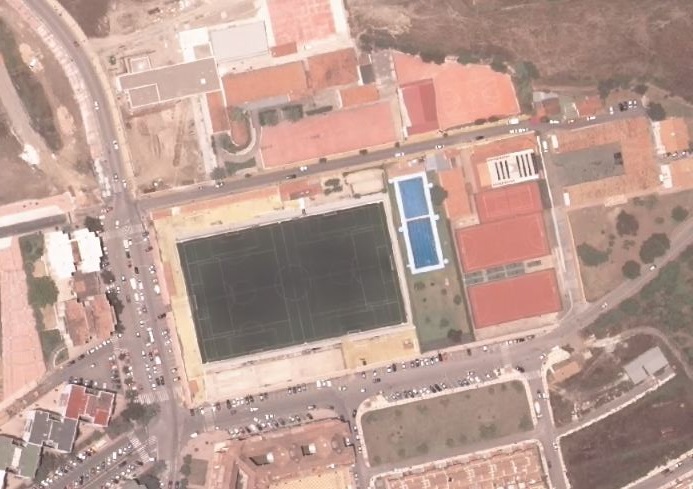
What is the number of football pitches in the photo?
1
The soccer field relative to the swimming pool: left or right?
left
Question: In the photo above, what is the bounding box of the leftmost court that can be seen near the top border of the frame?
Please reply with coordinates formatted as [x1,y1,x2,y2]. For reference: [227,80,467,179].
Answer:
[268,0,337,46]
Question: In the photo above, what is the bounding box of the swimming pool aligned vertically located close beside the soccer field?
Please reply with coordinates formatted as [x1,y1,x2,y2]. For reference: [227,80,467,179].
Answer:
[393,172,445,274]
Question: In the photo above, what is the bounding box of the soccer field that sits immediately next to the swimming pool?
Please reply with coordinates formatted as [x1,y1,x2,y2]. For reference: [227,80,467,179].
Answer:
[177,203,408,363]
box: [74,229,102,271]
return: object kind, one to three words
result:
building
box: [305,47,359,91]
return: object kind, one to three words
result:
building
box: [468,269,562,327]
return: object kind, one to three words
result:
sports court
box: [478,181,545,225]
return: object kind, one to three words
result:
tennis court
